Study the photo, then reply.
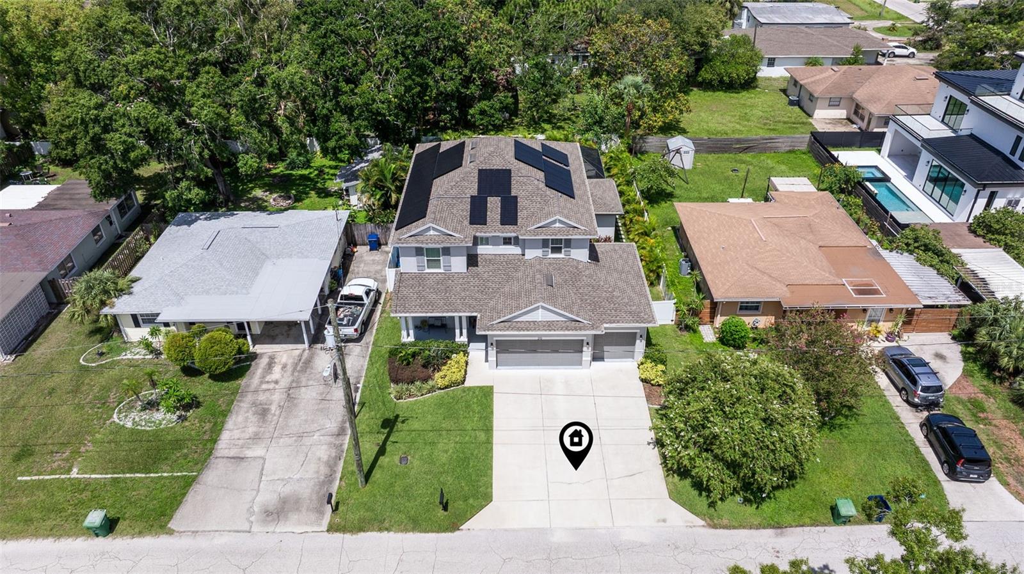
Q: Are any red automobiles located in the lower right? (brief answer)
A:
No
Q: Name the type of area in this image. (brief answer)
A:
residential area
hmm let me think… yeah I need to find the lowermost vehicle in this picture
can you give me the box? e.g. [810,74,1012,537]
[915,413,997,490]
